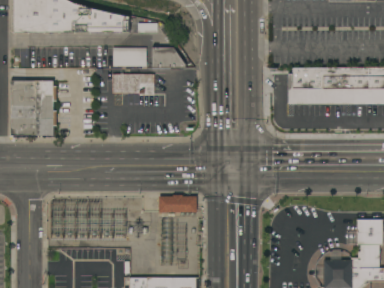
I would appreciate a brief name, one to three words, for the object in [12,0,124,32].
building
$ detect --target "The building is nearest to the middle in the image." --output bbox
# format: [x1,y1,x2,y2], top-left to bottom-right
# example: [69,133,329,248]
[160,194,198,216]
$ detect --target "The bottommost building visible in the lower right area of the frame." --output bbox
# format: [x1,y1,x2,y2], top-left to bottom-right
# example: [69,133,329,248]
[324,256,352,288]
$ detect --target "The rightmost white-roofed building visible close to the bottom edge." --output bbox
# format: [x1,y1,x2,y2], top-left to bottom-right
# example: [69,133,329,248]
[352,220,384,288]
